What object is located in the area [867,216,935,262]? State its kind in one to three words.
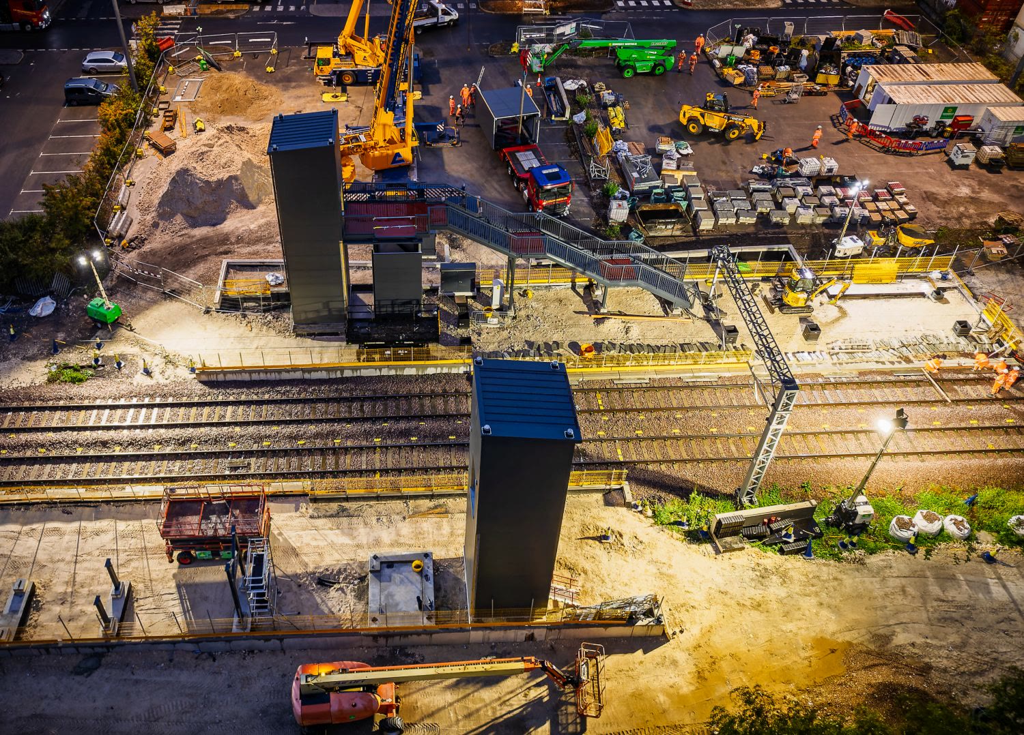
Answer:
truck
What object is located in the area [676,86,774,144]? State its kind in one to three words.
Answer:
work vehicle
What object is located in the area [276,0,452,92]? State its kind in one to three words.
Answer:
crane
